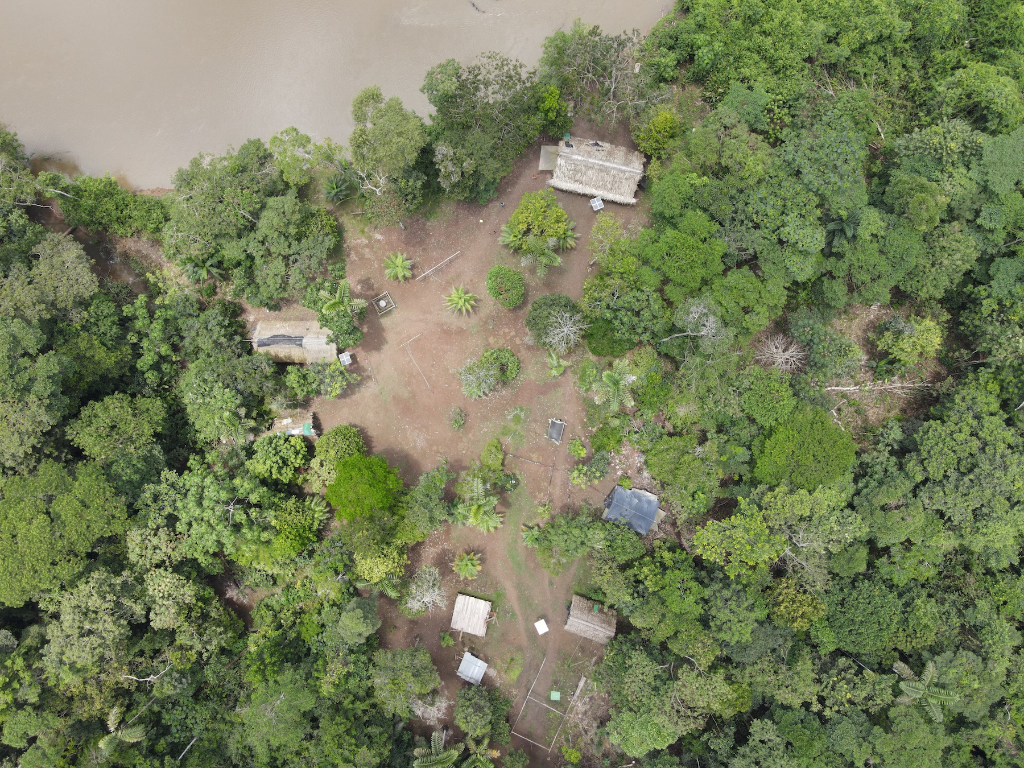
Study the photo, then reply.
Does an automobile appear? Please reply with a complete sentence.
No, there's no automobile here.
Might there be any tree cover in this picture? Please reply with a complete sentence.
Yes, there is tree cover in the image.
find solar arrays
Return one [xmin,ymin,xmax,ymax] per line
[338,352,352,365]
[589,196,603,211]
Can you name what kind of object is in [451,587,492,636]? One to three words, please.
shed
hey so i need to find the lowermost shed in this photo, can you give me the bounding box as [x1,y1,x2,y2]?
[457,644,488,684]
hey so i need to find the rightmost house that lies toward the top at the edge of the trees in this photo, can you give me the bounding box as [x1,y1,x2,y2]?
[543,137,649,205]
